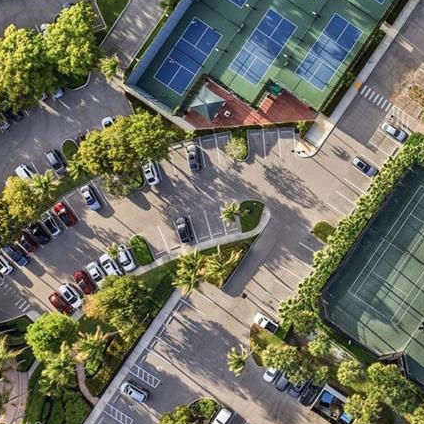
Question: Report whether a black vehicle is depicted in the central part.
Yes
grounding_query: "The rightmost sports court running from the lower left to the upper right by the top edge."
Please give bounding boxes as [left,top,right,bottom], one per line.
[294,12,363,90]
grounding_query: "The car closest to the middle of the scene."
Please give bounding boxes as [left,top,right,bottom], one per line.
[176,217,192,243]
